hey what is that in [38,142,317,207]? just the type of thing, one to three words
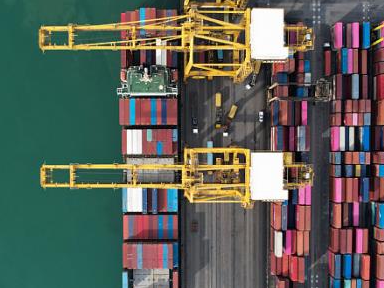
container crane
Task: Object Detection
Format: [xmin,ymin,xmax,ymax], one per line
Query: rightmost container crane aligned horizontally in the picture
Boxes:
[266,81,333,108]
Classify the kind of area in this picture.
port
